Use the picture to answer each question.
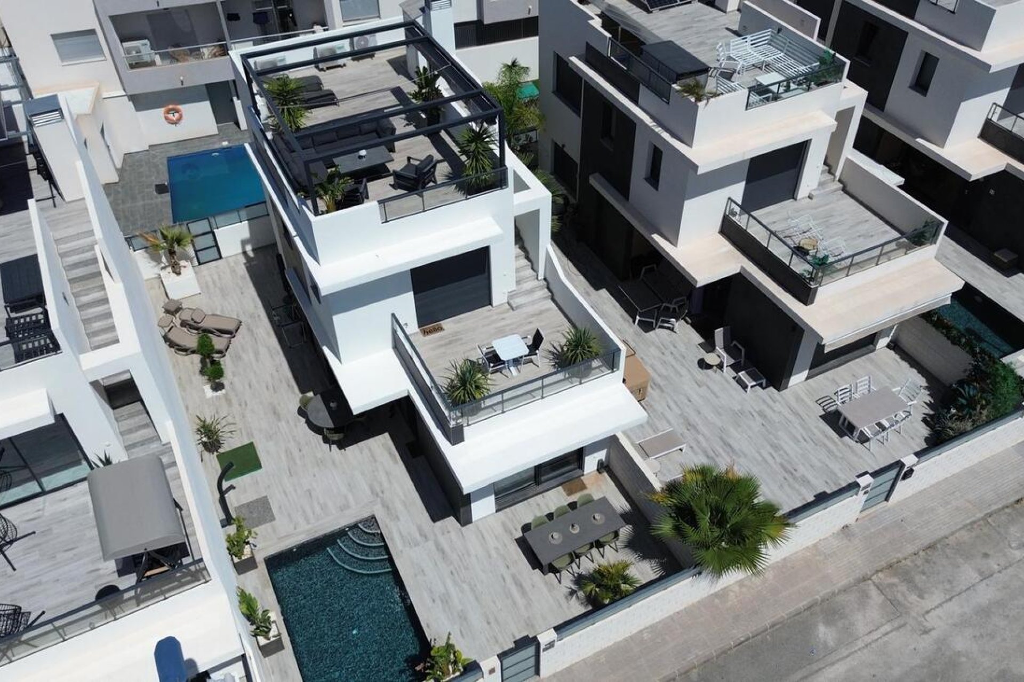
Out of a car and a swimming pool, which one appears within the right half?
swimming pool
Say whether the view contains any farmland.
No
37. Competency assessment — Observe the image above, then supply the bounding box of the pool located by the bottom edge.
[264,516,436,682]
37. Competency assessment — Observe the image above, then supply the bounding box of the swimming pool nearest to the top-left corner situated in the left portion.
[168,145,260,223]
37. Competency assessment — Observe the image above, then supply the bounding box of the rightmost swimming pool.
[935,300,1009,361]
